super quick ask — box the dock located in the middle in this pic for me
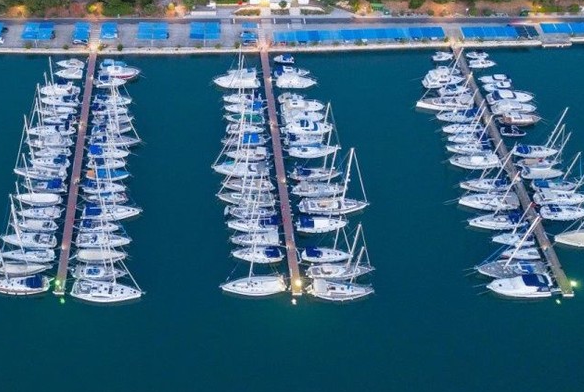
[259,51,305,297]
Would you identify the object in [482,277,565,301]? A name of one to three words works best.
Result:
boat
